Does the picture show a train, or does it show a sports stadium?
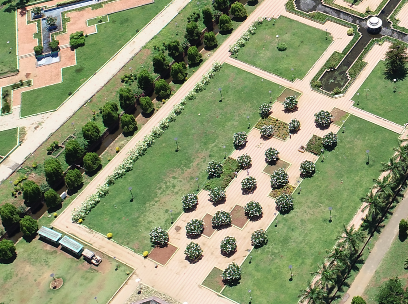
train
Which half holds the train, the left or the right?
left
